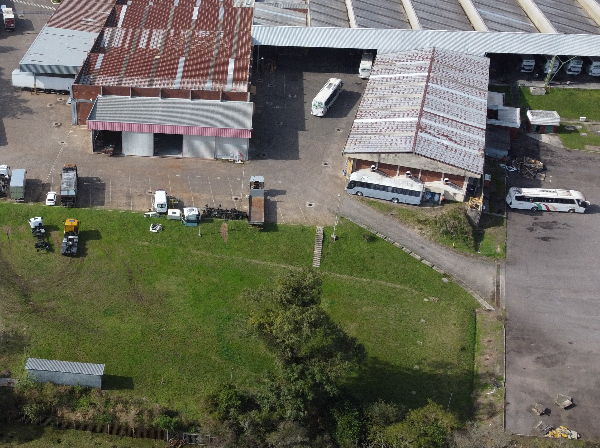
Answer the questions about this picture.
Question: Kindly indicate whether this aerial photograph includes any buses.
Yes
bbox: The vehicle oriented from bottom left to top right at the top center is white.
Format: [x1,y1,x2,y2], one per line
[312,73,349,112]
